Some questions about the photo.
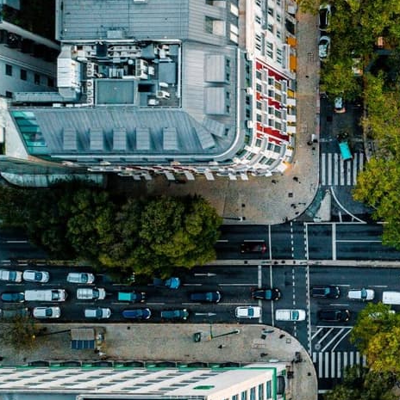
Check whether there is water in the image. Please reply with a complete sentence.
No, water can't be seen anywhere here.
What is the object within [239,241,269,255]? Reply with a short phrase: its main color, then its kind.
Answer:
black vehicle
